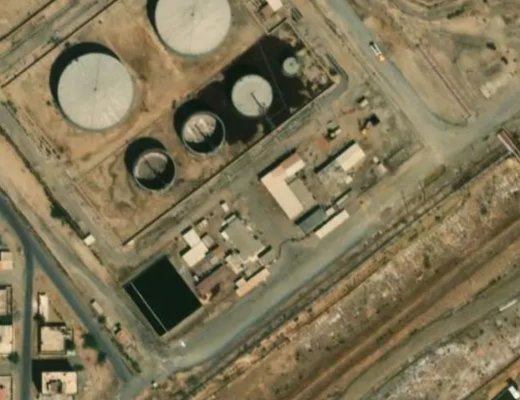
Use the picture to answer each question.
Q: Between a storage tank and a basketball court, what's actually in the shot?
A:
storage tank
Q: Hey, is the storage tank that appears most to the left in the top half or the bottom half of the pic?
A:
top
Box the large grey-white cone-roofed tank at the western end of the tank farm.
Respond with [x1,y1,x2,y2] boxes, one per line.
[56,53,136,132]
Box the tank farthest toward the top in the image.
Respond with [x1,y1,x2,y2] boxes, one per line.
[153,0,233,58]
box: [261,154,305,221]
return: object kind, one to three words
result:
building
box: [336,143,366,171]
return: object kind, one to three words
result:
building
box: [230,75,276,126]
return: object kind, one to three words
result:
storage tank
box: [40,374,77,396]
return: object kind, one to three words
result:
house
